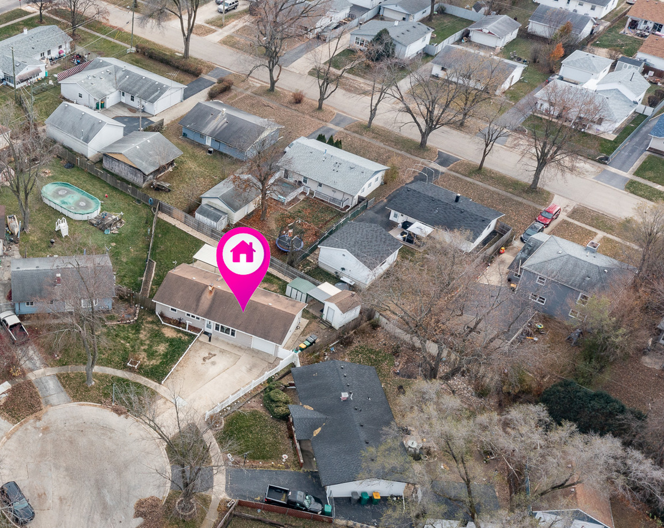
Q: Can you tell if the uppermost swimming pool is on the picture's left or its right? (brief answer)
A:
left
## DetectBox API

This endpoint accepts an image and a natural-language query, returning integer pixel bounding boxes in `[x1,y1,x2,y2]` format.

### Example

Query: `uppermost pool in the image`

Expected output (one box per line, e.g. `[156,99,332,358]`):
[42,185,101,218]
